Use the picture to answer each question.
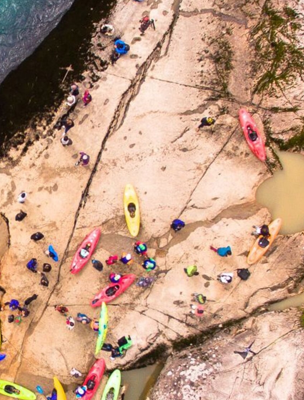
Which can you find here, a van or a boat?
boat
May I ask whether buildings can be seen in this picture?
No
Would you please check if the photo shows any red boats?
Yes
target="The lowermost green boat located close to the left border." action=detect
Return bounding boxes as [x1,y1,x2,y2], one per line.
[0,380,35,400]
